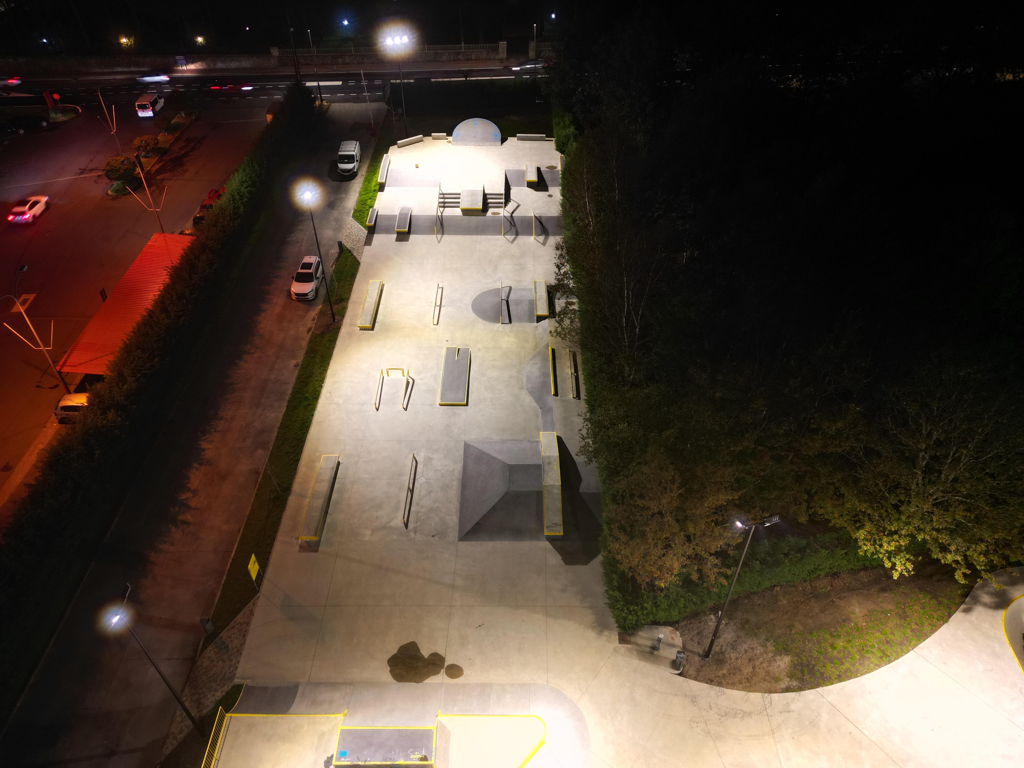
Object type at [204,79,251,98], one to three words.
car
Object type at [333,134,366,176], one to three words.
van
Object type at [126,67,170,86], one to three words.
car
